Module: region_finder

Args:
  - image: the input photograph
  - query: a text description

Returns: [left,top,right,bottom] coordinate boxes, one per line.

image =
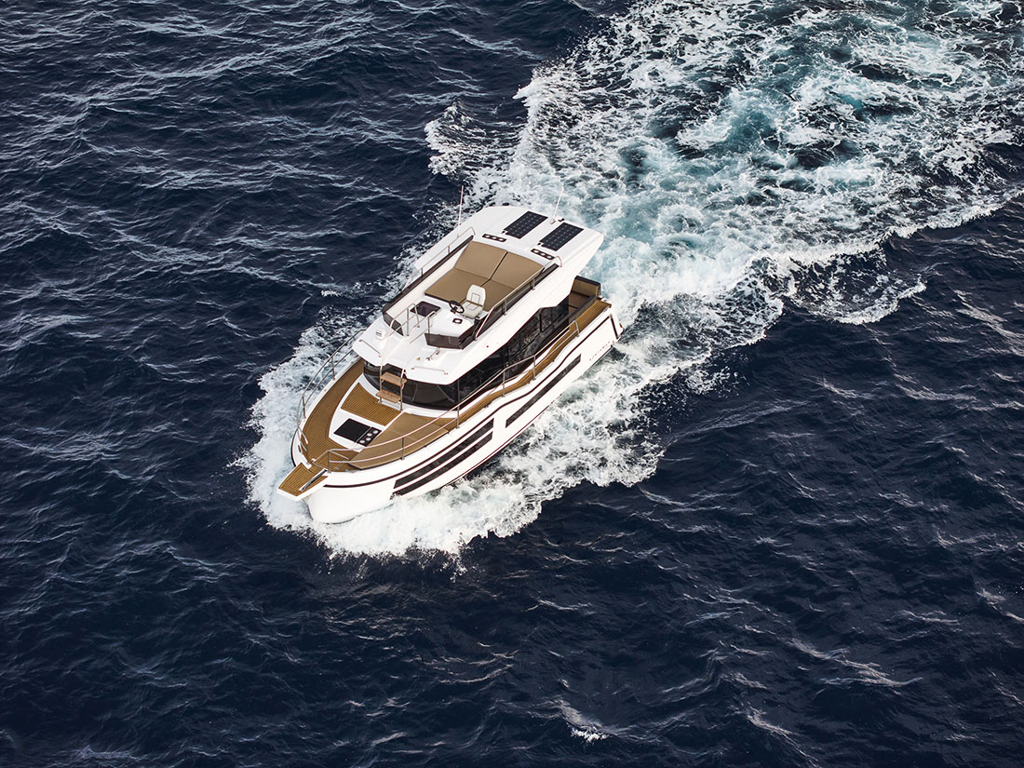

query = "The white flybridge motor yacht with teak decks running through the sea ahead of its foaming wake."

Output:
[276,185,624,525]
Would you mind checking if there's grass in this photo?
No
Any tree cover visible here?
No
